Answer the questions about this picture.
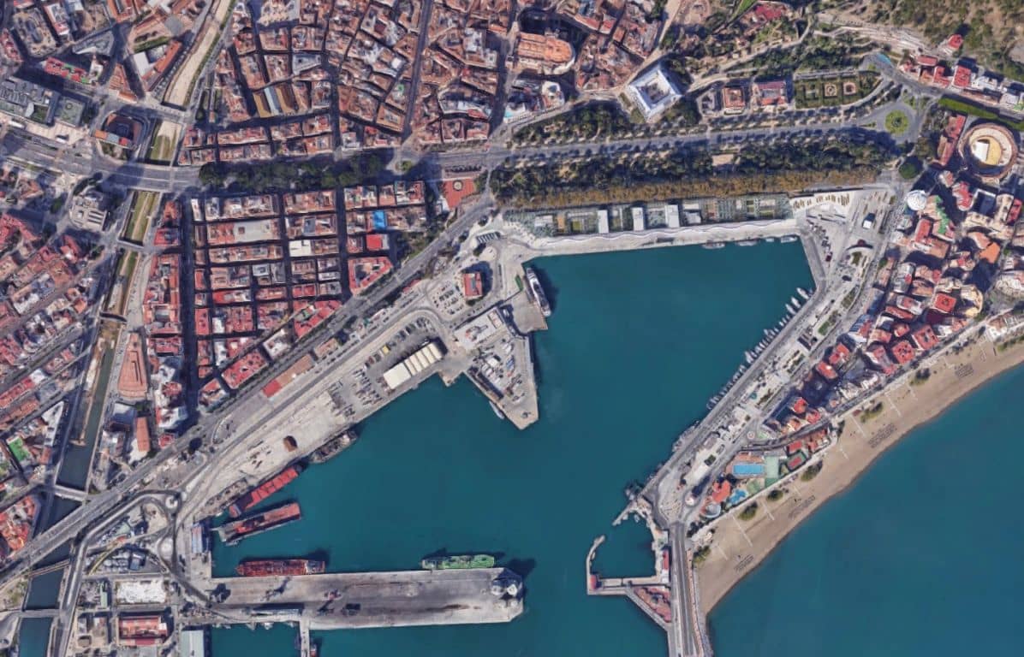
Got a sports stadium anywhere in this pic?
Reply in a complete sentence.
Yes, the picture does show a sports stadium.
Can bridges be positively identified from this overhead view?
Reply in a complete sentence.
Yes, you can see a bridge in this photo.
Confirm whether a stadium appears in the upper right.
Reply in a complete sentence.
Yes, I can see a stadium in the upper right.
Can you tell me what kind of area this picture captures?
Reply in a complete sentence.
It's a port.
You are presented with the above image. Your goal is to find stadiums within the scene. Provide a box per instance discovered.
[959,118,1019,176]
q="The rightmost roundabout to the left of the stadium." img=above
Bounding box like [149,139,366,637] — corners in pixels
[875,100,918,143]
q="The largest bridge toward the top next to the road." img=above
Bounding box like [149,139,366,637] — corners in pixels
[127,159,176,190]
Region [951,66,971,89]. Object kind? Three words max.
building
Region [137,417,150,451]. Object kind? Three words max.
house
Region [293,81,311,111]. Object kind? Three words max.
house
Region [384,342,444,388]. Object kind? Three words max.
building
